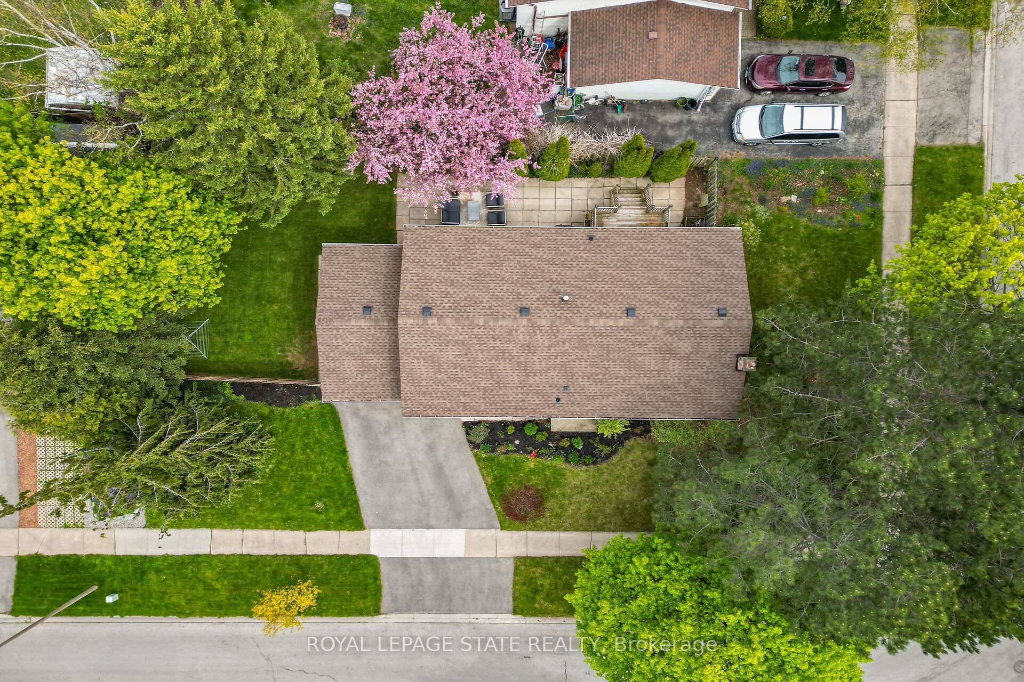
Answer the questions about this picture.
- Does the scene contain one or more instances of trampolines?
No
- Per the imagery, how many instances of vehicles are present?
2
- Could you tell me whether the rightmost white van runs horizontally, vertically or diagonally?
horizontally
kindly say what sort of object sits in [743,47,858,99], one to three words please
car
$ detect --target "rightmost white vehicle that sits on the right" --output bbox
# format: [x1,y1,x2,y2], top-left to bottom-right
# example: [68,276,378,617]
[732,97,851,150]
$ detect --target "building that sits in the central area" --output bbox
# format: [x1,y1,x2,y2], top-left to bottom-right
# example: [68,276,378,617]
[315,223,759,422]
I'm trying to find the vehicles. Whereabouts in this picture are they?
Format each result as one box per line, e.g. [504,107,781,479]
[743,47,858,99]
[732,97,851,150]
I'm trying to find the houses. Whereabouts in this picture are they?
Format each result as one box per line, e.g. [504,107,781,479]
[502,0,755,102]
[315,223,759,422]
